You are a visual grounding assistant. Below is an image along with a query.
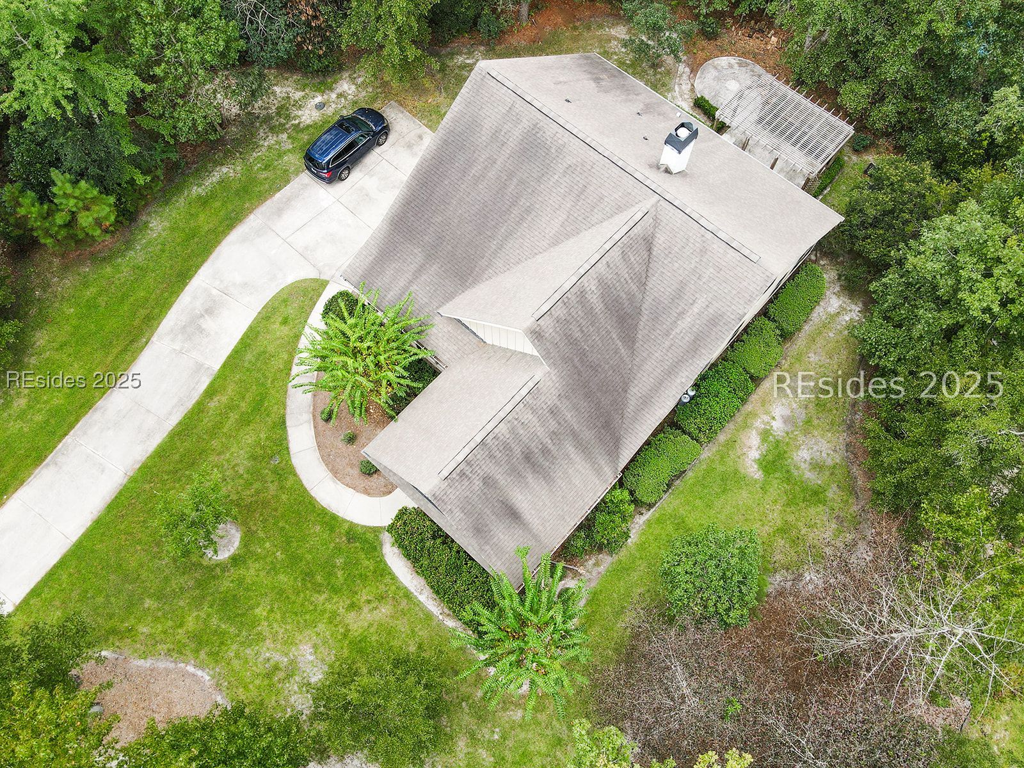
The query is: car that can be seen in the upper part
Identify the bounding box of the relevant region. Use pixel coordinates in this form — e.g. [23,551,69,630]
[297,103,389,187]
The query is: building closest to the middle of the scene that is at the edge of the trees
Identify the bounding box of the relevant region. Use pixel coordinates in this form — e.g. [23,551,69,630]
[339,51,844,594]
